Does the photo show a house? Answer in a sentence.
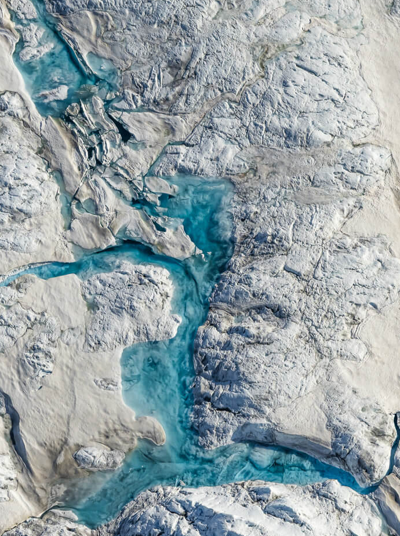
No, there is no house in the image.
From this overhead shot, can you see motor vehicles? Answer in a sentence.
No, no motor vehicle is visible in the scene.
